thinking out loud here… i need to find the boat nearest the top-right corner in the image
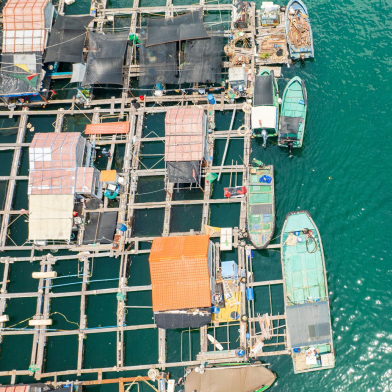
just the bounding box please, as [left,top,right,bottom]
[285,0,313,70]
